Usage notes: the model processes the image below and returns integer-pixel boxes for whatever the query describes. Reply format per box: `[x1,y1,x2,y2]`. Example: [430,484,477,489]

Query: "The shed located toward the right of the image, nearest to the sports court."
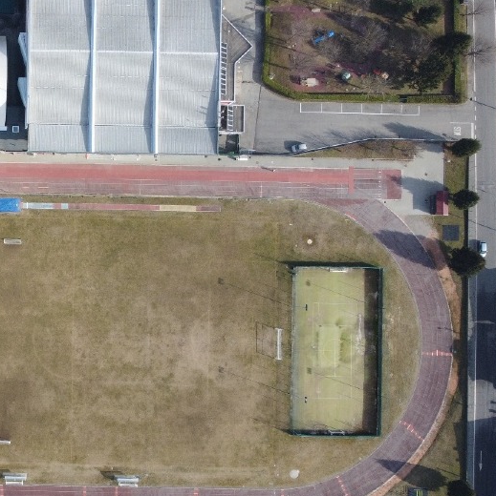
[430,190,448,215]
